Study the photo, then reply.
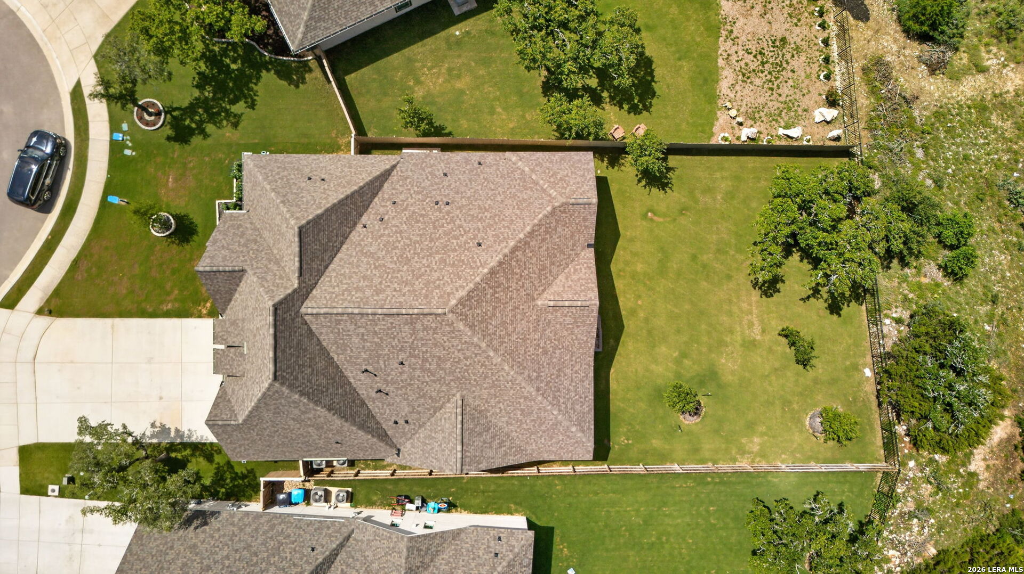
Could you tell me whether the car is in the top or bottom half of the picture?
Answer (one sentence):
The car is in the top half of the image.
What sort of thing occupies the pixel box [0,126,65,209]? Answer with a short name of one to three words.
car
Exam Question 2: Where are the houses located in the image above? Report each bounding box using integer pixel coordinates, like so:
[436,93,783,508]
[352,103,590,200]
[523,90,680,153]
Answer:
[117,499,534,574]
[194,150,599,474]
[269,0,453,56]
